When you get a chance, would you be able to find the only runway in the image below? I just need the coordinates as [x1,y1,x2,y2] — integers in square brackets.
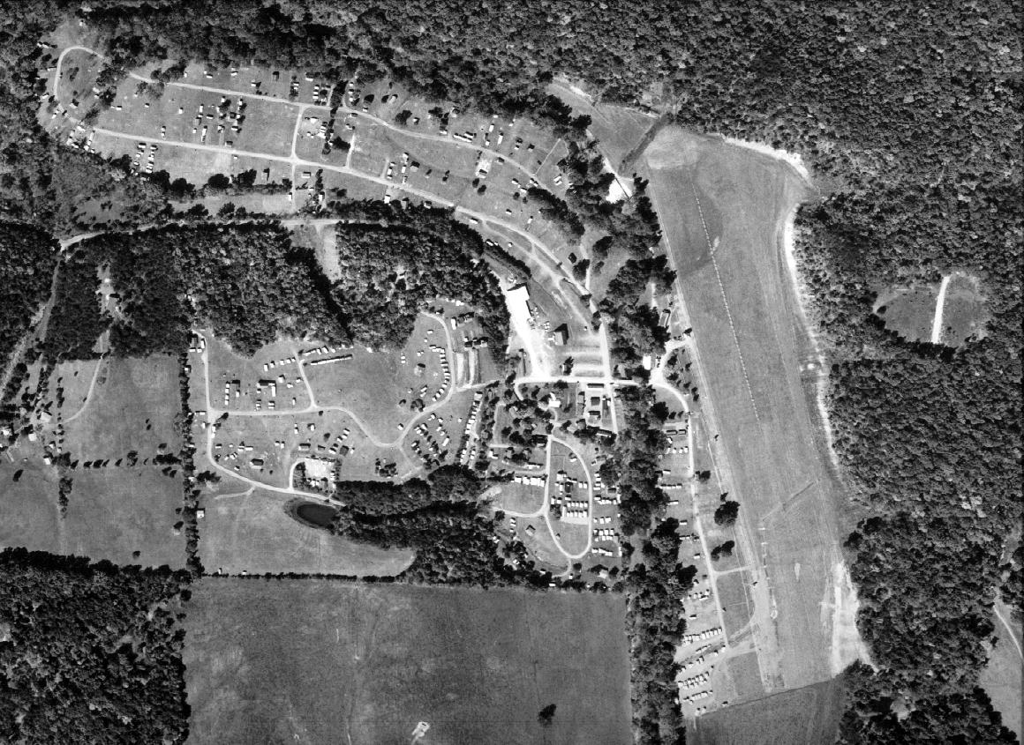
[651,141,839,688]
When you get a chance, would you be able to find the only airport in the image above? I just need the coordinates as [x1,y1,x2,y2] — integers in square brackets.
[651,141,839,688]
